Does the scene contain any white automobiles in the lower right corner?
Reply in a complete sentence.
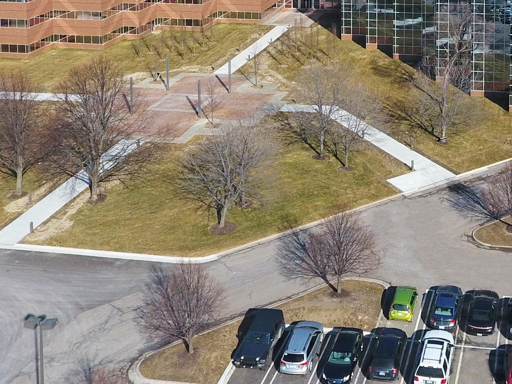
Yes, a white automobile appears in the lower right corner.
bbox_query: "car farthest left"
[238,311,291,379]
